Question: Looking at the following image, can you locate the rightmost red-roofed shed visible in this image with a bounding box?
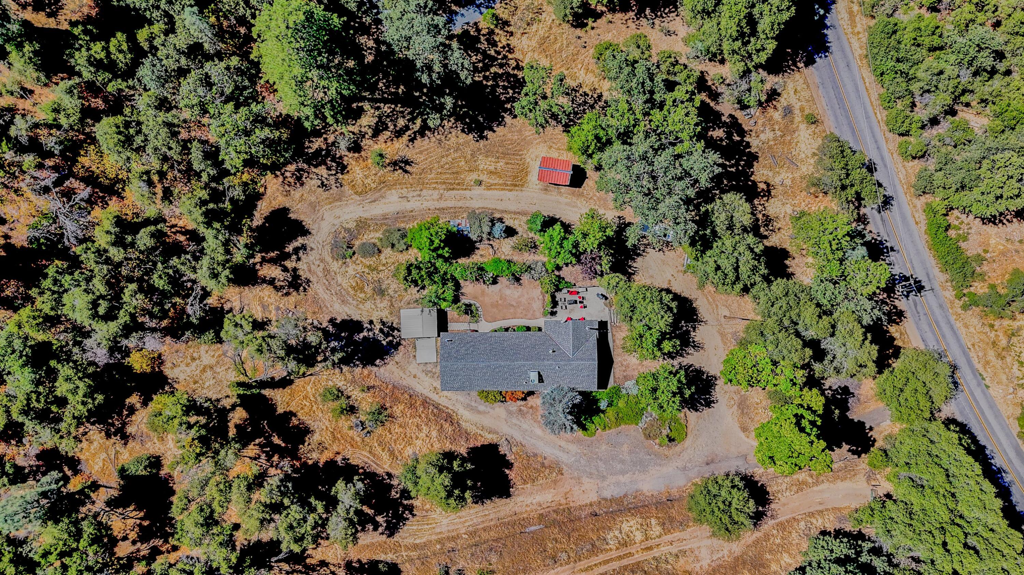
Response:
[537,156,573,185]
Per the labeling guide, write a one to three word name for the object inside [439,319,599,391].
house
